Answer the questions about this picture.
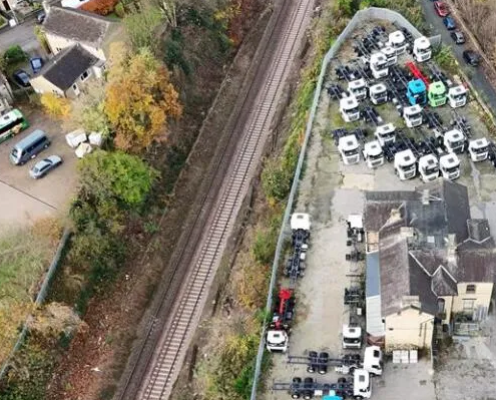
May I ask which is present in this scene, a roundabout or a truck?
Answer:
truck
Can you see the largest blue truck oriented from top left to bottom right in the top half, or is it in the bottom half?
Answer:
top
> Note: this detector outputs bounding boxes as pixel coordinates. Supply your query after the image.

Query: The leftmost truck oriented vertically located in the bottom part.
[265,289,293,355]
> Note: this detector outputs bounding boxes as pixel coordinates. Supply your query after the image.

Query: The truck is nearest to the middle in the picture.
[286,216,311,290]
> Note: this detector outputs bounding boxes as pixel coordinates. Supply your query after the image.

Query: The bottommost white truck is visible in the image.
[269,369,371,398]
